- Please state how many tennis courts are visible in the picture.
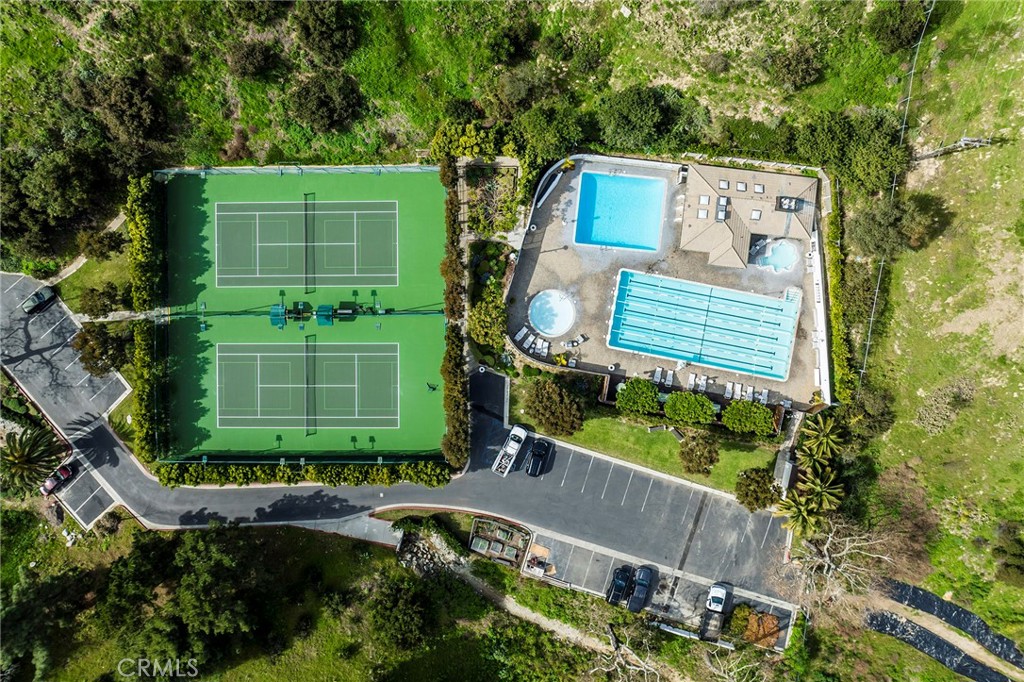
2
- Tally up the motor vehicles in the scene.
seven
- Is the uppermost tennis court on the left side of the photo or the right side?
left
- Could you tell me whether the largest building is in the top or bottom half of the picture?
top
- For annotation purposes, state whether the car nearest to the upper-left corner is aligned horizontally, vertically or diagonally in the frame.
diagonally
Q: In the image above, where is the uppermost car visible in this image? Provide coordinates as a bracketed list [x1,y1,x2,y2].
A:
[15,284,54,316]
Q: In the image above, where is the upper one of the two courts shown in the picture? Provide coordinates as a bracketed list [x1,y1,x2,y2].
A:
[167,169,446,317]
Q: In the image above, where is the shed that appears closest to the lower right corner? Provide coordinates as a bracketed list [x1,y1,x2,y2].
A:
[773,459,793,496]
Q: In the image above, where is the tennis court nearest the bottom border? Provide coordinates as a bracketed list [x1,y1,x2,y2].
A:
[167,317,446,461]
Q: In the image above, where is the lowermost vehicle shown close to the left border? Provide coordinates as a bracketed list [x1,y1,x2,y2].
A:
[35,465,71,498]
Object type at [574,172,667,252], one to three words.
swimming pool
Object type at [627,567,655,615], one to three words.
truck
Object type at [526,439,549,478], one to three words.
car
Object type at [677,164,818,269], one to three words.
building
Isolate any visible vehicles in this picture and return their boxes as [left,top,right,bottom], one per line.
[607,565,633,609]
[15,284,54,316]
[35,465,71,498]
[702,584,728,646]
[494,428,525,475]
[526,439,549,478]
[627,567,655,615]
